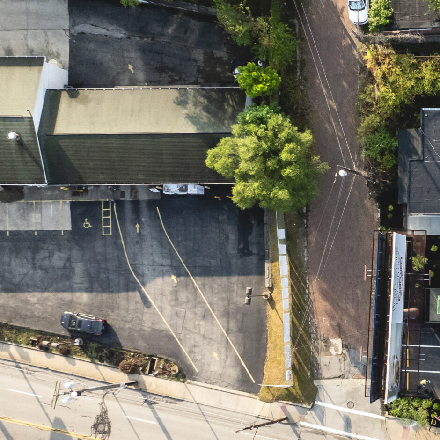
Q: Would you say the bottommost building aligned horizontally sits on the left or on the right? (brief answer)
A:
left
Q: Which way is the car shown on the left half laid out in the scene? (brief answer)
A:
from left to right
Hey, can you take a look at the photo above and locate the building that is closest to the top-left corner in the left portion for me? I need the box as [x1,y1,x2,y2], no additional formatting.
[0,53,269,190]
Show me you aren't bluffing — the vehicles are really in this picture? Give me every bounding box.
[348,0,370,28]
[61,311,109,335]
